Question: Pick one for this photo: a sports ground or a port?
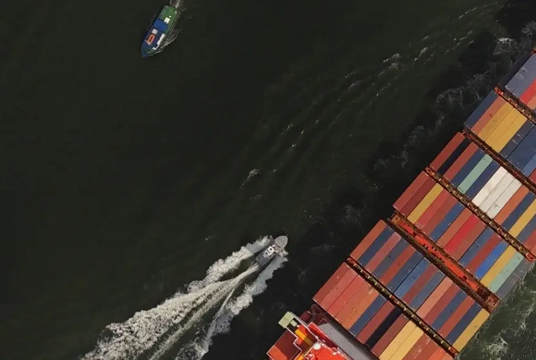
port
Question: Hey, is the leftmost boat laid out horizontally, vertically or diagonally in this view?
diagonally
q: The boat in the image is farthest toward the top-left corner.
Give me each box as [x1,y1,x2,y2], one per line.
[140,5,179,56]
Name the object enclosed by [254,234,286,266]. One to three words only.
boat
